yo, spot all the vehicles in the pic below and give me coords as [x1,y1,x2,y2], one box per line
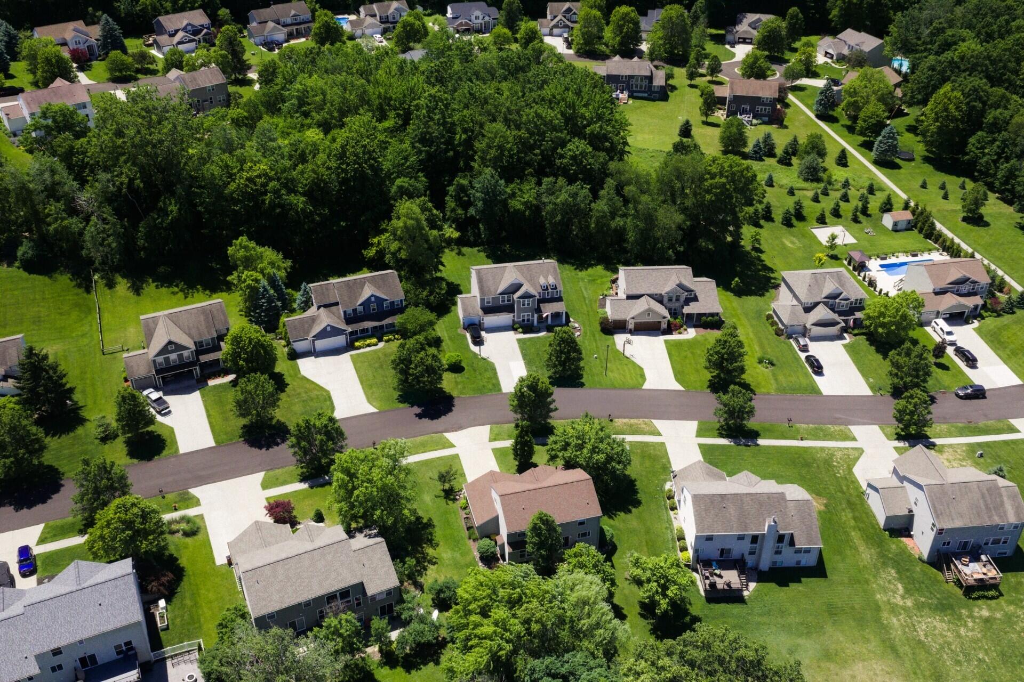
[4,86,23,95]
[955,346,981,365]
[15,543,36,576]
[561,32,569,39]
[263,40,274,49]
[790,333,810,350]
[804,354,827,372]
[274,40,283,47]
[956,383,990,400]
[0,557,17,583]
[934,316,956,338]
[467,324,482,341]
[374,34,382,41]
[565,39,573,47]
[143,391,169,413]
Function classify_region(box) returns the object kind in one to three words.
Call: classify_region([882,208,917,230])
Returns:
shed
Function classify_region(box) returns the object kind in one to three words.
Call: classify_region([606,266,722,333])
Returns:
house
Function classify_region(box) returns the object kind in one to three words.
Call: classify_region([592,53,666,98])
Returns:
house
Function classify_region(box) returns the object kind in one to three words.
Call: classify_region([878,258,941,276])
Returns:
swimming pool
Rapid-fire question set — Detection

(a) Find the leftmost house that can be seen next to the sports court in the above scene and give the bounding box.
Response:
[772,268,870,338]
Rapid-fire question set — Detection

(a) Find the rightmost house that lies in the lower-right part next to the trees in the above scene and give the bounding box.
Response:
[863,441,1024,563]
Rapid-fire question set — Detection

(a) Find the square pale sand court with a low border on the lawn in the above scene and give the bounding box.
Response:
[809,225,858,246]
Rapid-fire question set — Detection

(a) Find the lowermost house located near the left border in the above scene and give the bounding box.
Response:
[0,555,154,682]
